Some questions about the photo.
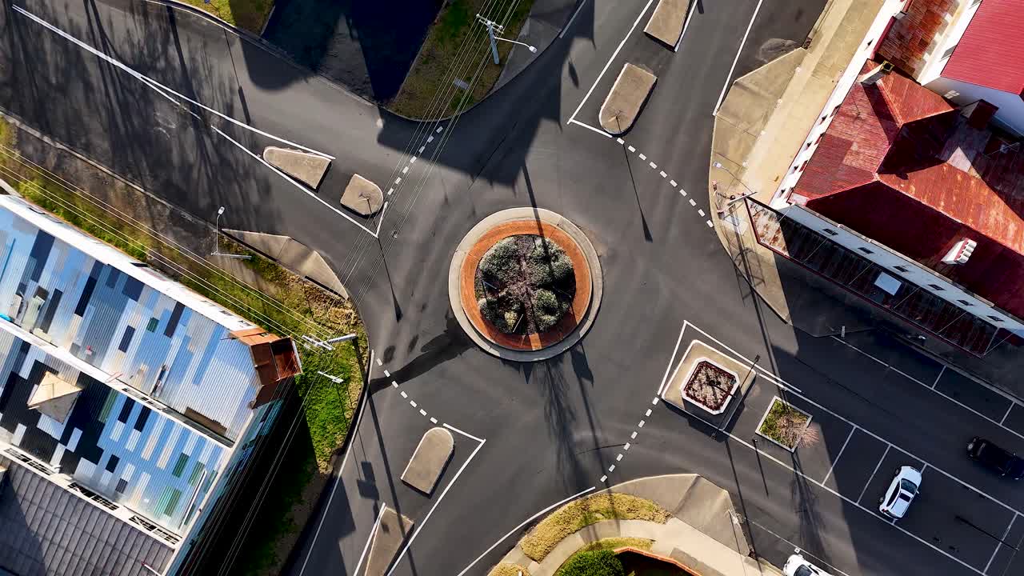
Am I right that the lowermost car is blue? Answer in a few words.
No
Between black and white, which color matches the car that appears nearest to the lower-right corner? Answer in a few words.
black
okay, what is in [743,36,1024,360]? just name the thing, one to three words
building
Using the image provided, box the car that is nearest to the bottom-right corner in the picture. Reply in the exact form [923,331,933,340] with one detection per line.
[968,438,1024,480]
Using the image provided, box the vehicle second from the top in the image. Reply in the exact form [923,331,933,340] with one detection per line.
[878,464,920,518]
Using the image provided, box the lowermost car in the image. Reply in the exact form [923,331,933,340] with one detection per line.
[784,556,832,576]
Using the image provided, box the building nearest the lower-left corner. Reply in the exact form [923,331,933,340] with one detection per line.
[0,181,303,576]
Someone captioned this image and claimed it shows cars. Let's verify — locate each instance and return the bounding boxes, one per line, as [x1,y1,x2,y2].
[878,464,920,518]
[784,556,832,576]
[968,438,1024,480]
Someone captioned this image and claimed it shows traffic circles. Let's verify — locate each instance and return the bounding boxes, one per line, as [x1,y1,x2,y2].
[448,207,603,362]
